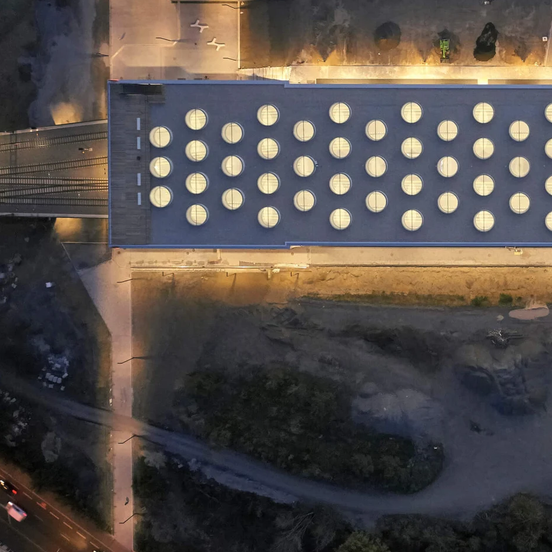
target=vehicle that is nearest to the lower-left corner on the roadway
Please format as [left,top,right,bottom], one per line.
[2,504,25,521]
